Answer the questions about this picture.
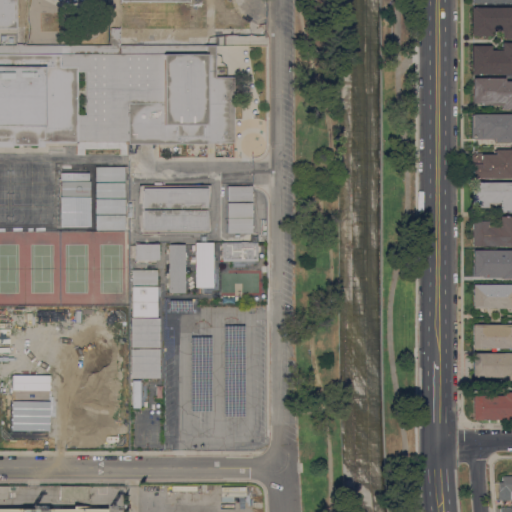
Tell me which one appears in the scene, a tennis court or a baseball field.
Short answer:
tennis court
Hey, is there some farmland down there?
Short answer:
No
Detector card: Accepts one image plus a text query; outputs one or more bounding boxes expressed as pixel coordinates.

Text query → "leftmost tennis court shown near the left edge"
[0,244,22,294]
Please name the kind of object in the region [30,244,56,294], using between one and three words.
tennis court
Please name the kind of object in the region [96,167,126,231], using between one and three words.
building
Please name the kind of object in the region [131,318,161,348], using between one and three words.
shed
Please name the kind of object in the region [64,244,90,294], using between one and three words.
tennis court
